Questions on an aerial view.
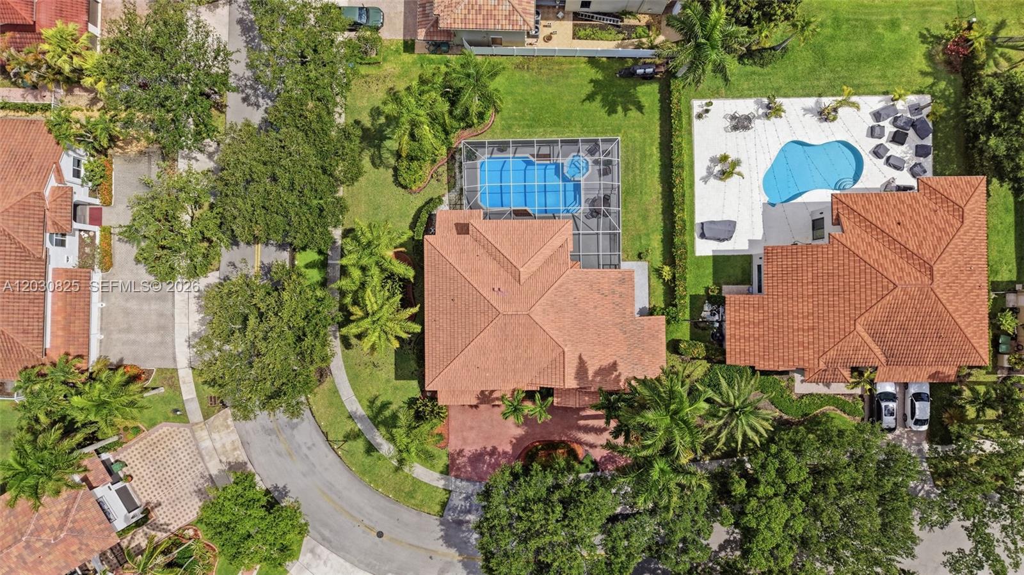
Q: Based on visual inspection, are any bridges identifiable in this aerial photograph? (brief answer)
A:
No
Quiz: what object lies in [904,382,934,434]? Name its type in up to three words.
car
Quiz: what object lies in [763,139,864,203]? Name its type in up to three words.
swimming pool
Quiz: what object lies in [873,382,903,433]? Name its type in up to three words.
car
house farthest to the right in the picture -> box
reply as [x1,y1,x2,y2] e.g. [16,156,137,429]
[721,175,990,384]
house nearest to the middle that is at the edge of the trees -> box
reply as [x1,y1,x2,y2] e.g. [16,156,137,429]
[424,210,666,408]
